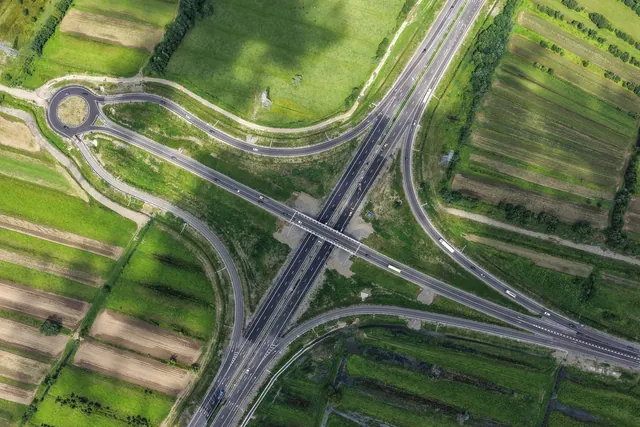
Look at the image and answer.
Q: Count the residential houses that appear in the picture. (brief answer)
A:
0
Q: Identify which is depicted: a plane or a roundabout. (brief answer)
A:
roundabout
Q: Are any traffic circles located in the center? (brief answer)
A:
No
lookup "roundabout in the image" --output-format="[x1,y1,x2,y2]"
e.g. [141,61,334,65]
[46,85,98,137]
